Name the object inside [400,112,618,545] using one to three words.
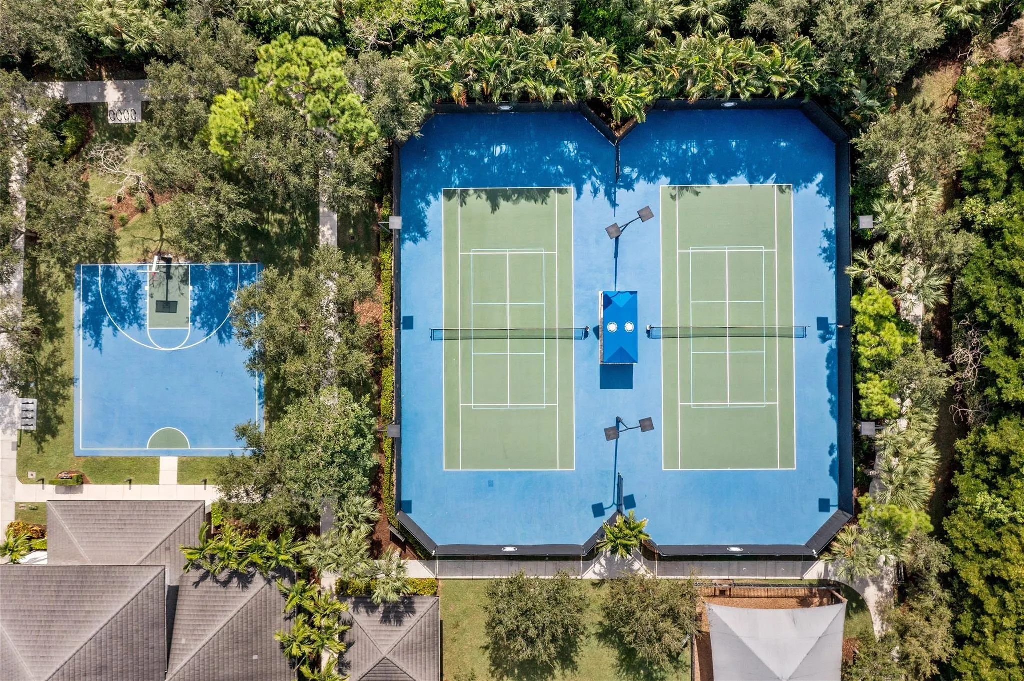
tennis court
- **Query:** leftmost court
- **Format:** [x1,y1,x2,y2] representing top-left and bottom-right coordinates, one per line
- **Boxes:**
[74,261,264,456]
